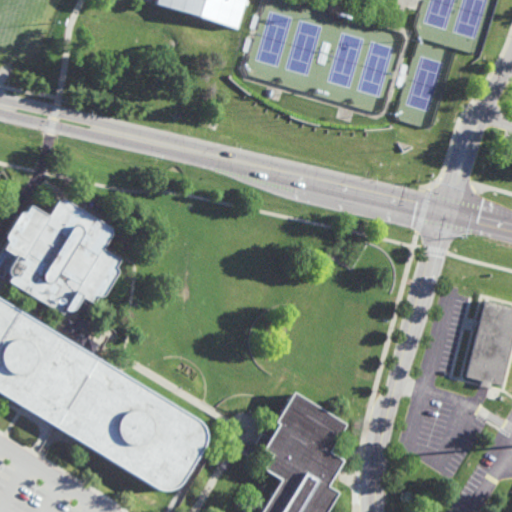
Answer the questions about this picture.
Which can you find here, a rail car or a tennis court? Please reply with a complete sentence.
Visible in the photo is a tennis court.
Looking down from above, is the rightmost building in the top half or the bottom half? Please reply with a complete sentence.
It is in the bottom half that the rightmost building appears.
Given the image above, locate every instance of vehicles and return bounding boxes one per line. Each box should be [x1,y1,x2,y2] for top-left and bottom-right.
[58,503,68,511]
[33,494,43,502]
[256,174,266,179]
[224,152,234,157]
[20,486,30,494]
[30,500,40,508]
[430,412,440,418]
[431,401,442,407]
[483,460,492,467]
[486,454,496,462]
[64,16,70,27]
[19,493,28,500]
[296,182,306,188]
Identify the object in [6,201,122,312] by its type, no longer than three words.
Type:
building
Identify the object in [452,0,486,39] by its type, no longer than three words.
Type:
tennis court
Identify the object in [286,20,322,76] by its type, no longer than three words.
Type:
tennis court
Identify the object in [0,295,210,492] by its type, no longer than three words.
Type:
building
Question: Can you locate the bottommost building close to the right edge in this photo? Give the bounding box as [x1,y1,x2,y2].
[466,302,512,389]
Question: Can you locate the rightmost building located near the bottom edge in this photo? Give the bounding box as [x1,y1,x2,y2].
[263,392,347,512]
